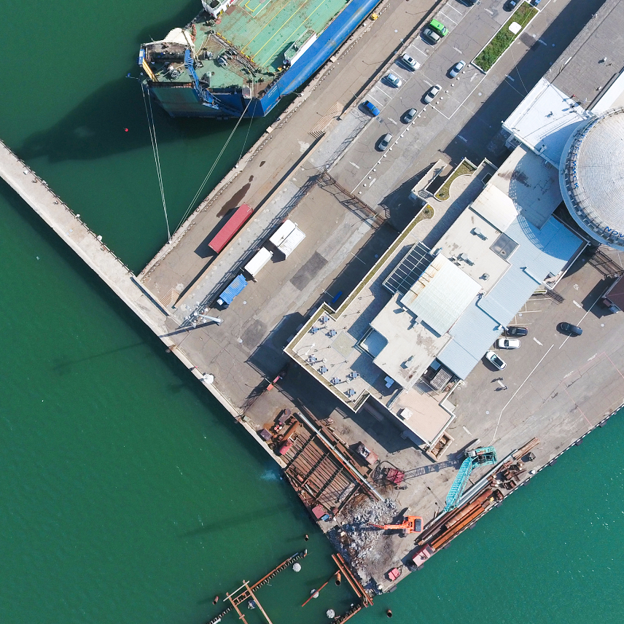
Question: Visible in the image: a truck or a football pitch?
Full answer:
There is a truck in the scene.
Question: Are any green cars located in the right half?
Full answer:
Yes, a green car is visible in the right half.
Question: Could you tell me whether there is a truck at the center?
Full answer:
Yes, a truck shows up at the center.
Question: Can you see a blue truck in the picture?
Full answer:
Yes, the frame does contain a blue truck.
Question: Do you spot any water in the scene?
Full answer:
Yes, there is water in the image.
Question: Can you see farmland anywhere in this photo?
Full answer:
No, there's no farmland in this view.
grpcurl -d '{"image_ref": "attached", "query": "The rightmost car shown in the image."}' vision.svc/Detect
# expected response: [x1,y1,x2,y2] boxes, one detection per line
[558,321,581,336]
